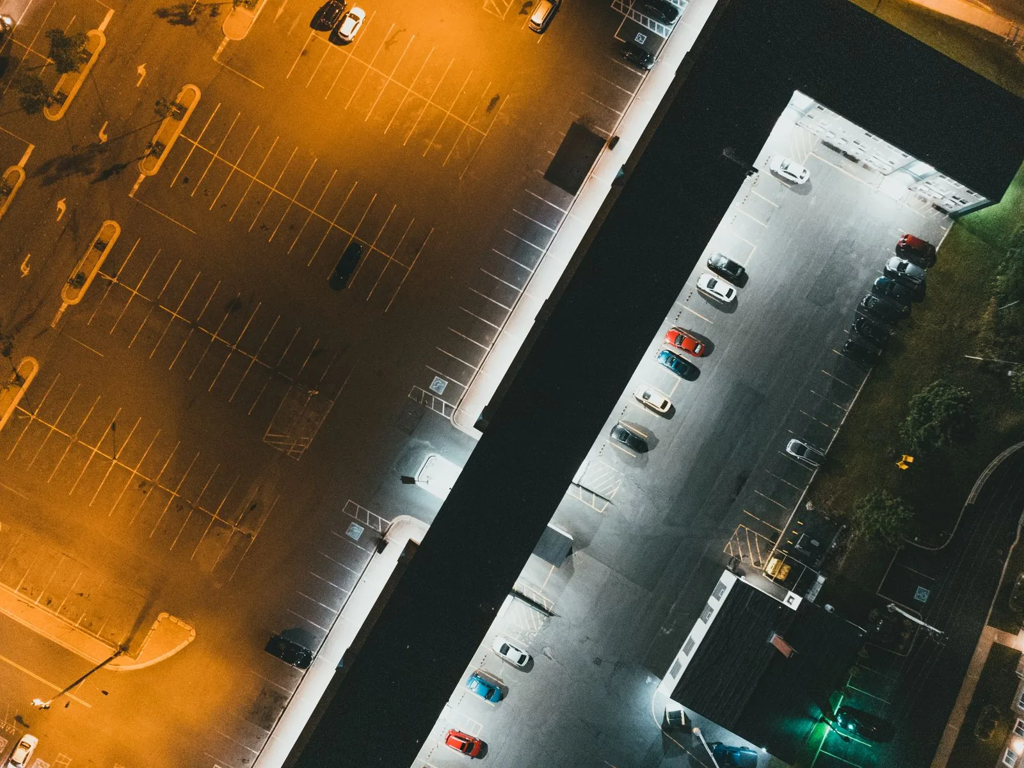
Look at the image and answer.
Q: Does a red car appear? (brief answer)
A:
Yes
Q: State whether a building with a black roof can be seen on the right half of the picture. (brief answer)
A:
Yes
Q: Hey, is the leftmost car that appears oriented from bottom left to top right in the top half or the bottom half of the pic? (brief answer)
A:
bottom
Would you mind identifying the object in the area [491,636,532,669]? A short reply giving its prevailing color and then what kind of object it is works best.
white car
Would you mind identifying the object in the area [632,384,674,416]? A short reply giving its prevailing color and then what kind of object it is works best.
white car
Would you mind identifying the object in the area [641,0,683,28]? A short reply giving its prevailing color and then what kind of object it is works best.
black car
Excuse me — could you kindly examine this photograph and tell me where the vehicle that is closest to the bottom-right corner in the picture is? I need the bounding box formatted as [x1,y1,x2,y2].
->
[838,705,887,744]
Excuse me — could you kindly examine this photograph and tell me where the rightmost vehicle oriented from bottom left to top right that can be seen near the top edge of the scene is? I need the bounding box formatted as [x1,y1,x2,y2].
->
[529,0,562,35]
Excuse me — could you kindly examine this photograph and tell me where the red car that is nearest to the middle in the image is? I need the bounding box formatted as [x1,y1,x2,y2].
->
[664,327,706,359]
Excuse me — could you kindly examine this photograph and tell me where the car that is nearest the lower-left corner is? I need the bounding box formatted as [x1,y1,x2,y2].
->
[4,732,37,768]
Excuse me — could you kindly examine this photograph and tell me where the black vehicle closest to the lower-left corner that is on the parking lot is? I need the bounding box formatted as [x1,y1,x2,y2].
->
[264,631,315,670]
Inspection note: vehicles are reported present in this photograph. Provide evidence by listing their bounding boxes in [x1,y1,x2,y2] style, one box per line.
[786,436,828,468]
[769,153,812,185]
[894,232,938,265]
[0,56,9,80]
[664,327,706,359]
[632,384,674,416]
[616,39,658,73]
[873,275,917,307]
[838,705,887,744]
[264,631,315,670]
[4,732,37,768]
[641,0,683,28]
[695,272,738,304]
[335,4,366,44]
[466,671,504,701]
[711,741,762,768]
[608,422,650,454]
[529,0,562,35]
[491,636,532,669]
[705,251,748,283]
[444,726,484,759]
[315,0,348,31]
[657,348,699,380]
[884,254,928,286]
[329,241,366,288]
